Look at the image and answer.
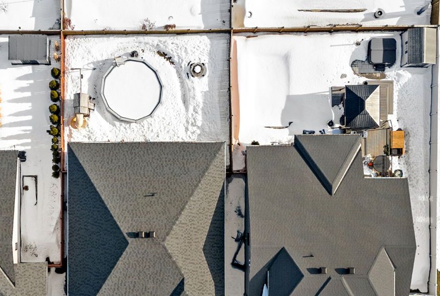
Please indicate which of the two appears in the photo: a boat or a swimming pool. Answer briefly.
swimming pool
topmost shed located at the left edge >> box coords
[11,34,52,67]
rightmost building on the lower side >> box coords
[243,134,416,296]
